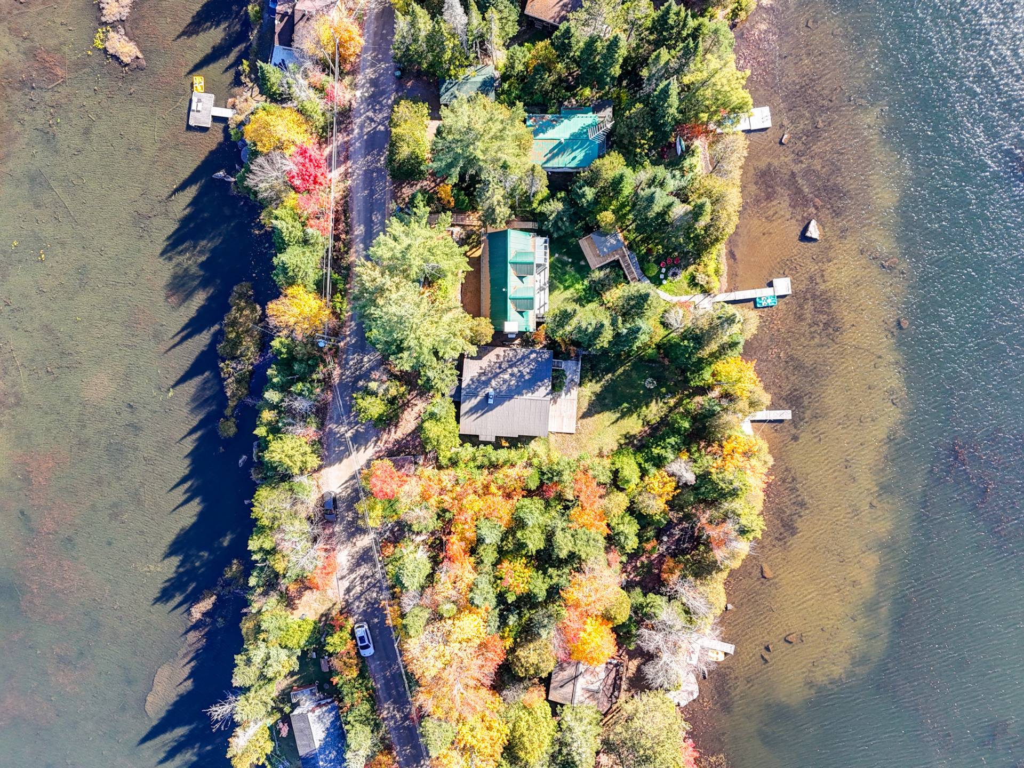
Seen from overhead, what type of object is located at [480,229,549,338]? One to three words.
house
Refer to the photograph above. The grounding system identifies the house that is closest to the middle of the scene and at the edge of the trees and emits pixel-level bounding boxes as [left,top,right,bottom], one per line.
[451,348,582,442]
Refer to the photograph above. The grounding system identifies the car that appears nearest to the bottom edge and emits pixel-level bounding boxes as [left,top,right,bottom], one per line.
[354,623,373,658]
